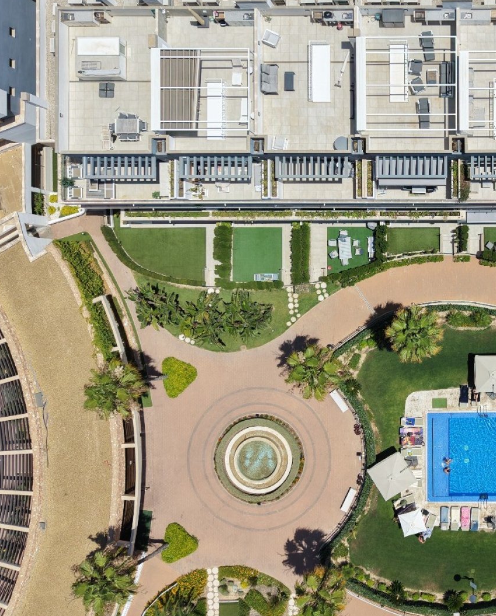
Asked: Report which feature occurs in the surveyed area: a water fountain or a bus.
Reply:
water fountain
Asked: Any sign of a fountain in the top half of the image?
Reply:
No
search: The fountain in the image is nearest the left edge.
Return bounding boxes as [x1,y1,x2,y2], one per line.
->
[226,422,297,493]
